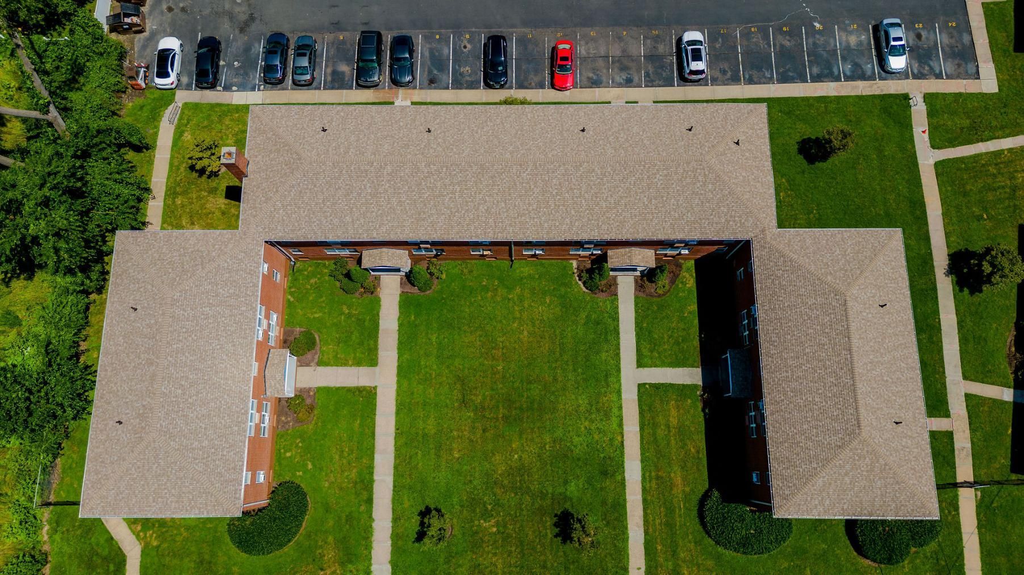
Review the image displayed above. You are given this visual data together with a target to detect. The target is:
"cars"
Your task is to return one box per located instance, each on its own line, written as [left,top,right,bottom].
[263,34,290,85]
[291,37,318,87]
[877,20,910,73]
[483,35,509,89]
[154,39,184,90]
[355,31,385,89]
[680,32,707,83]
[194,38,223,90]
[388,35,414,88]
[552,40,576,91]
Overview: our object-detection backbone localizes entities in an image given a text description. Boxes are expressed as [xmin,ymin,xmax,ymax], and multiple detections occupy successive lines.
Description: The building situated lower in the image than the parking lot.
[78,103,941,520]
